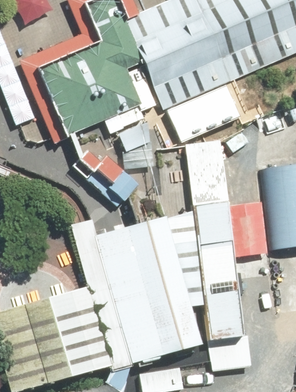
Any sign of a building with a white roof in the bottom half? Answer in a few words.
Yes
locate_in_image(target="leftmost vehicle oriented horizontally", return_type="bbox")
[184,373,216,386]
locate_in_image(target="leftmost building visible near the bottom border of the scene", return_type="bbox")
[0,298,71,392]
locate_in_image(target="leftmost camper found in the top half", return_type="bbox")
[228,136,250,152]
